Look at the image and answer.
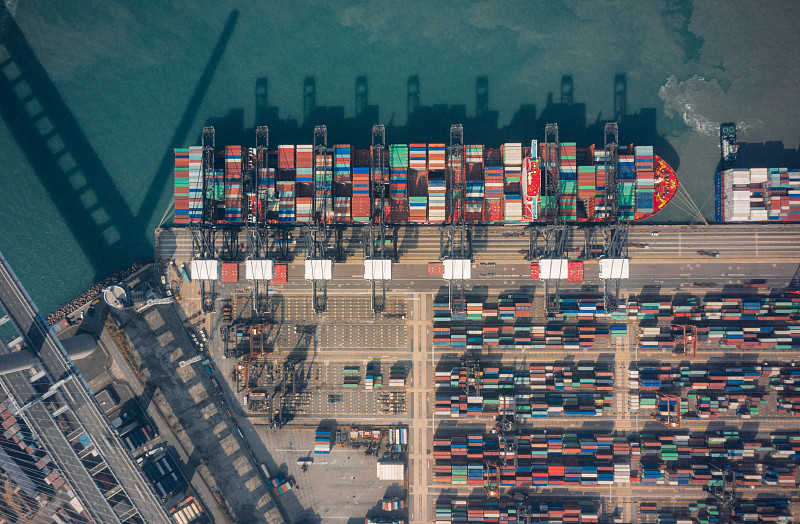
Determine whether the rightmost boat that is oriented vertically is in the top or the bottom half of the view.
top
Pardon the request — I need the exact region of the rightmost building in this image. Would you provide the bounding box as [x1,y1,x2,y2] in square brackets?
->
[378,460,404,480]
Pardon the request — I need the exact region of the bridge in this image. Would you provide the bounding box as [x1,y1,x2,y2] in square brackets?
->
[0,242,196,524]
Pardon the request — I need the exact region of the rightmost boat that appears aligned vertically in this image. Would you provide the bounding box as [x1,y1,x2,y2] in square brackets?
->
[719,123,740,170]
